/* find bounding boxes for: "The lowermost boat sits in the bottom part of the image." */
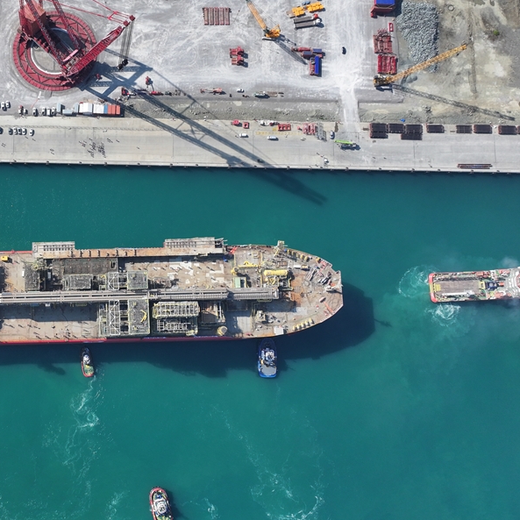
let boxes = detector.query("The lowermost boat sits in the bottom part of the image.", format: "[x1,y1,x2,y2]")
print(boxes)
[149,486,174,520]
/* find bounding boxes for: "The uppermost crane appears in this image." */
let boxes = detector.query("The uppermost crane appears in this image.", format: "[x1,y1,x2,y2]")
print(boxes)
[234,0,290,38]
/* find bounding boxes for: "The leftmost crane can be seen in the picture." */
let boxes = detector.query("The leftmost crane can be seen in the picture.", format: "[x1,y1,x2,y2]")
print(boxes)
[12,0,138,90]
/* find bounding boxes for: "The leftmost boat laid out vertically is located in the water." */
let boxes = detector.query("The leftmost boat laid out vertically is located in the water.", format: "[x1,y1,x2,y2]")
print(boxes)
[79,345,96,379]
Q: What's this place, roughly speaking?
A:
port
